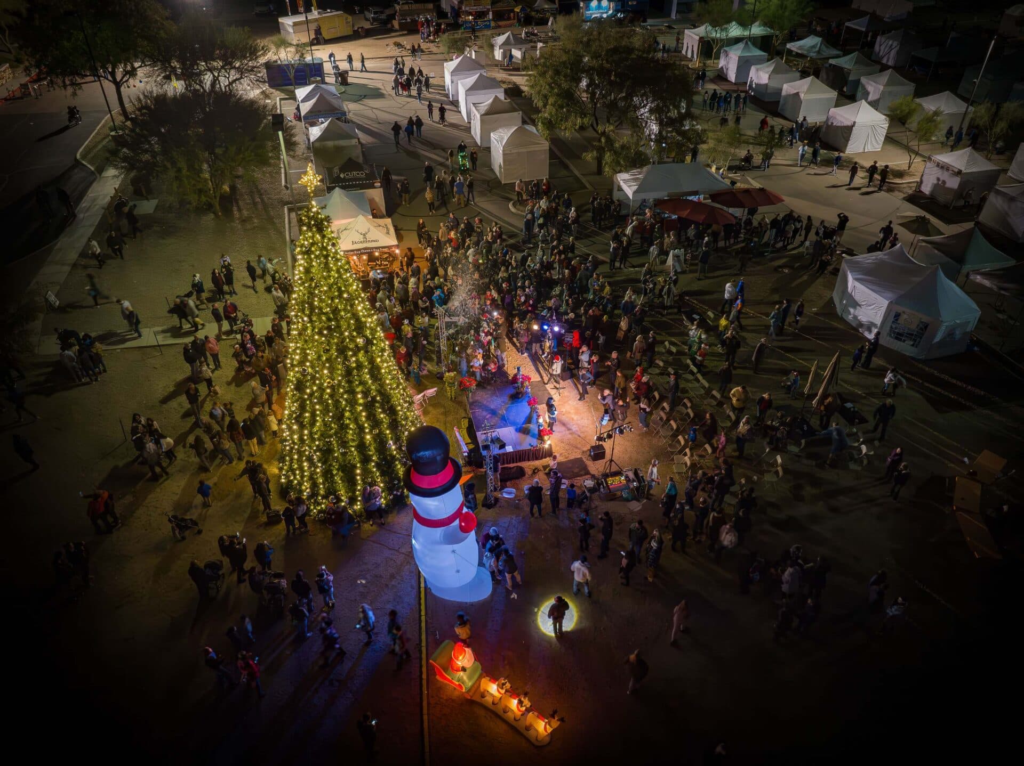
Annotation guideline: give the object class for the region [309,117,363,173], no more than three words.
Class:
tent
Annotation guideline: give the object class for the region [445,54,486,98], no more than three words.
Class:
tent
